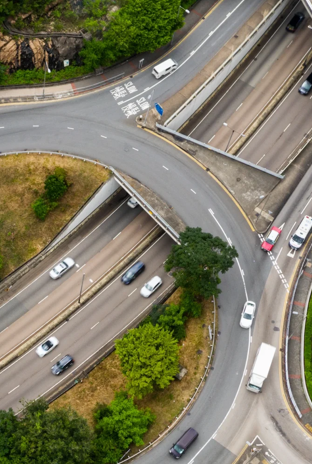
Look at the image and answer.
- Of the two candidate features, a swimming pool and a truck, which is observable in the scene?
truck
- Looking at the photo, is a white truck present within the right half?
Yes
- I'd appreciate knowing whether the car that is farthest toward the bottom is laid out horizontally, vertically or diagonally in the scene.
diagonally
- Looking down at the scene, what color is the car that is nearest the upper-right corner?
black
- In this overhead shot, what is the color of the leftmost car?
white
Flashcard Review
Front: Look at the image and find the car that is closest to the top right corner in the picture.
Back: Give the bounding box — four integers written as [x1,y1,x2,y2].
[285,13,305,34]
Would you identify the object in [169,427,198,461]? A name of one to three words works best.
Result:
car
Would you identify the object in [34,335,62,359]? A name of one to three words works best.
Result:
car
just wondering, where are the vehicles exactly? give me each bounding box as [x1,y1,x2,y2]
[150,58,177,80]
[123,196,139,212]
[298,71,312,96]
[169,427,198,461]
[49,352,77,378]
[34,335,62,359]
[139,274,164,300]
[285,13,305,34]
[243,338,276,395]
[286,212,312,253]
[239,298,257,331]
[49,256,76,282]
[121,261,147,286]
[261,226,282,253]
